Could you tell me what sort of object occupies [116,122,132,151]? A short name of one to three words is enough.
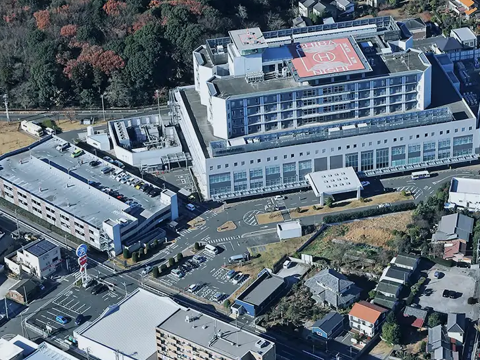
cooling tower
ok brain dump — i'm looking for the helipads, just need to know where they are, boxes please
[284,36,366,77]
